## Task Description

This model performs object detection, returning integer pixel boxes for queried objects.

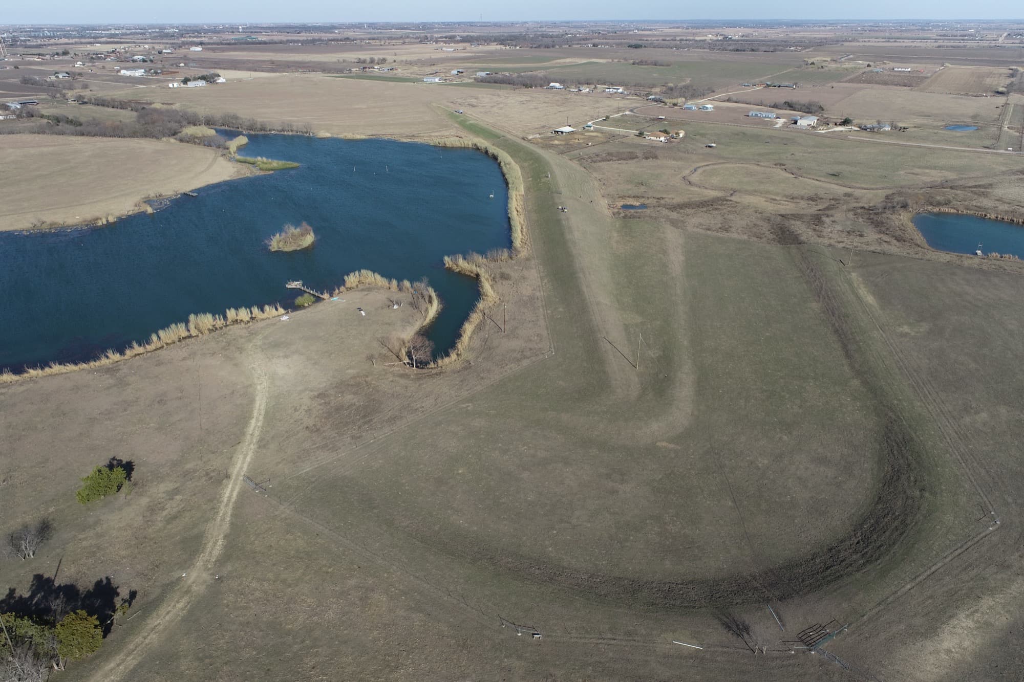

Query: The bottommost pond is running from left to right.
[914,213,1024,259]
